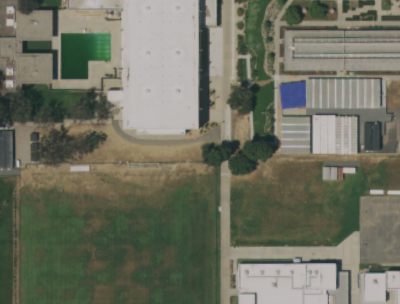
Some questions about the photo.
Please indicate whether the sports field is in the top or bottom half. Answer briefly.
bottom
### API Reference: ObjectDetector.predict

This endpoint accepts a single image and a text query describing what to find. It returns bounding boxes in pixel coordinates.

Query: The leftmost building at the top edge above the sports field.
[0,0,59,88]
